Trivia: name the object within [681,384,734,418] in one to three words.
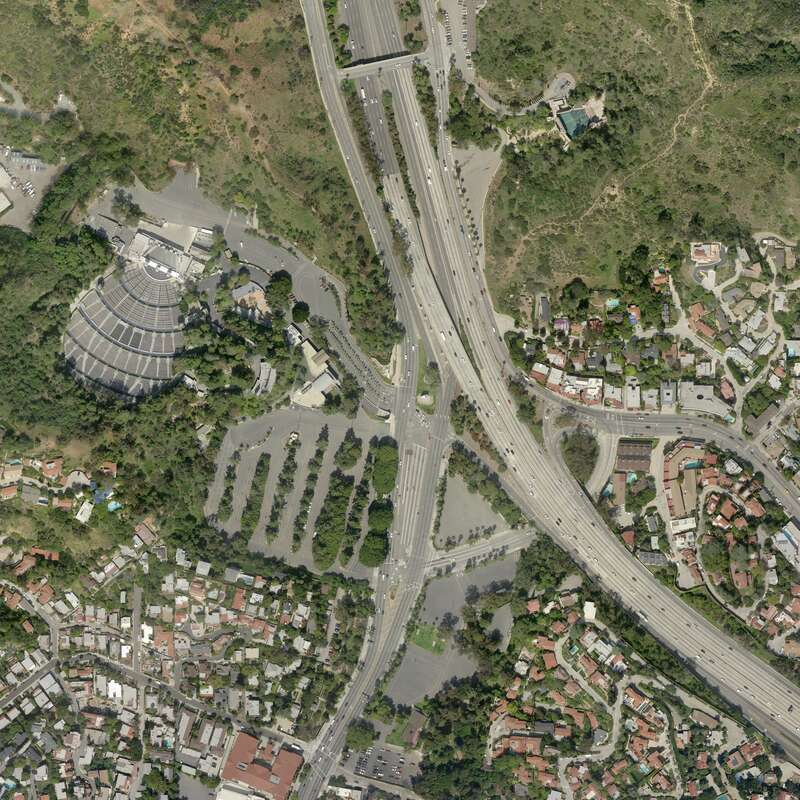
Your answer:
building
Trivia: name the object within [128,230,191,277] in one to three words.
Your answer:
house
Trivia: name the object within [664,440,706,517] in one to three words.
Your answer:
building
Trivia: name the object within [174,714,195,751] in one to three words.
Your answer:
shed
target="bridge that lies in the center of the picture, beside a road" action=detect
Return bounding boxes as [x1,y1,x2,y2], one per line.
[382,171,527,459]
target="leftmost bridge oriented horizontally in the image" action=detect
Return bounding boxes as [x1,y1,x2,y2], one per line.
[333,47,435,79]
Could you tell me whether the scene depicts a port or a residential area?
residential area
